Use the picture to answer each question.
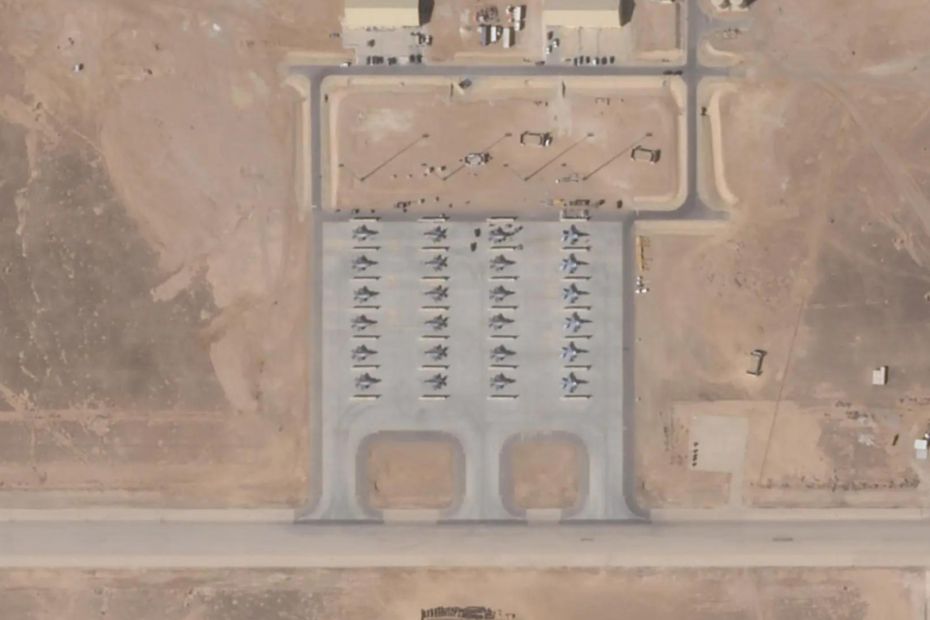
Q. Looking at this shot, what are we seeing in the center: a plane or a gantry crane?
plane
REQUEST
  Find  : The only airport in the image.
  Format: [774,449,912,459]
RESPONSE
[0,221,930,567]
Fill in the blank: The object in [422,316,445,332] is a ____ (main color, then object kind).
gray airplane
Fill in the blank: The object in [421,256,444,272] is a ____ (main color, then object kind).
gray airplane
